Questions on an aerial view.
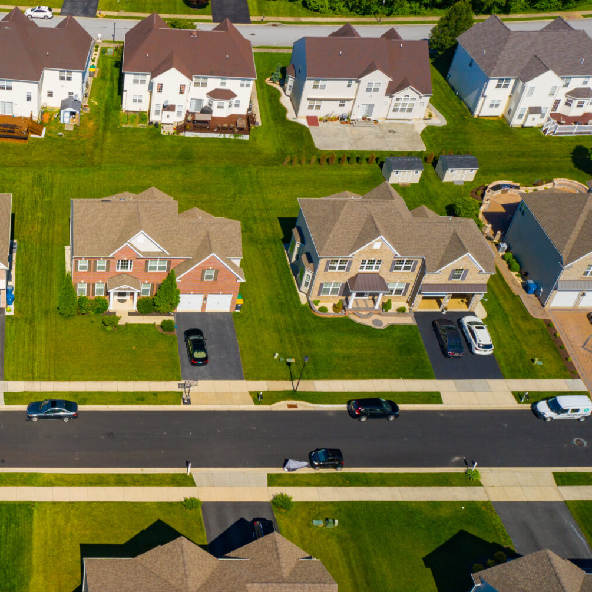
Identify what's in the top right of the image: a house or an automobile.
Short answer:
house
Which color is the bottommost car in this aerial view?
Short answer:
black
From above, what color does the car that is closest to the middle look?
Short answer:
black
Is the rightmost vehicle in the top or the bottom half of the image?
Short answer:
bottom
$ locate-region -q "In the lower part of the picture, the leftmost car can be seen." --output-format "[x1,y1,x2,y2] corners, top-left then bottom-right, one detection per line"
[27,399,80,424]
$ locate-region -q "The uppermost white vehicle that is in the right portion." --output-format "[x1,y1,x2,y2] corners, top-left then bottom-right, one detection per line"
[459,319,494,355]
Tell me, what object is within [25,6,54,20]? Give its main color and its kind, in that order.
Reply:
white car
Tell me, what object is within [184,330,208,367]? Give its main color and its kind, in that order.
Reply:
black car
